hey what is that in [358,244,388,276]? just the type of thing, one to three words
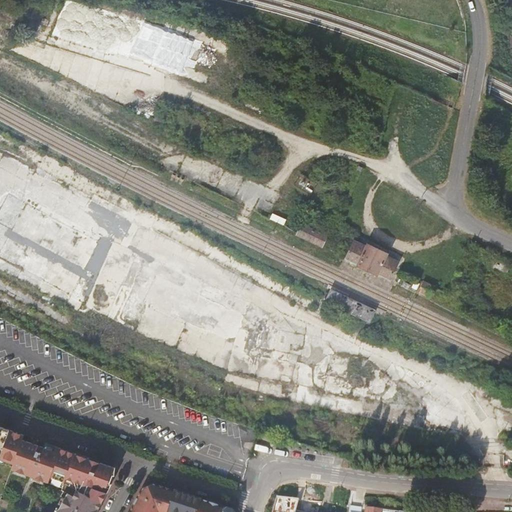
building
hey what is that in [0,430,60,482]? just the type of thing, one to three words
building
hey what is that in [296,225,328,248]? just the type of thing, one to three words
shed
